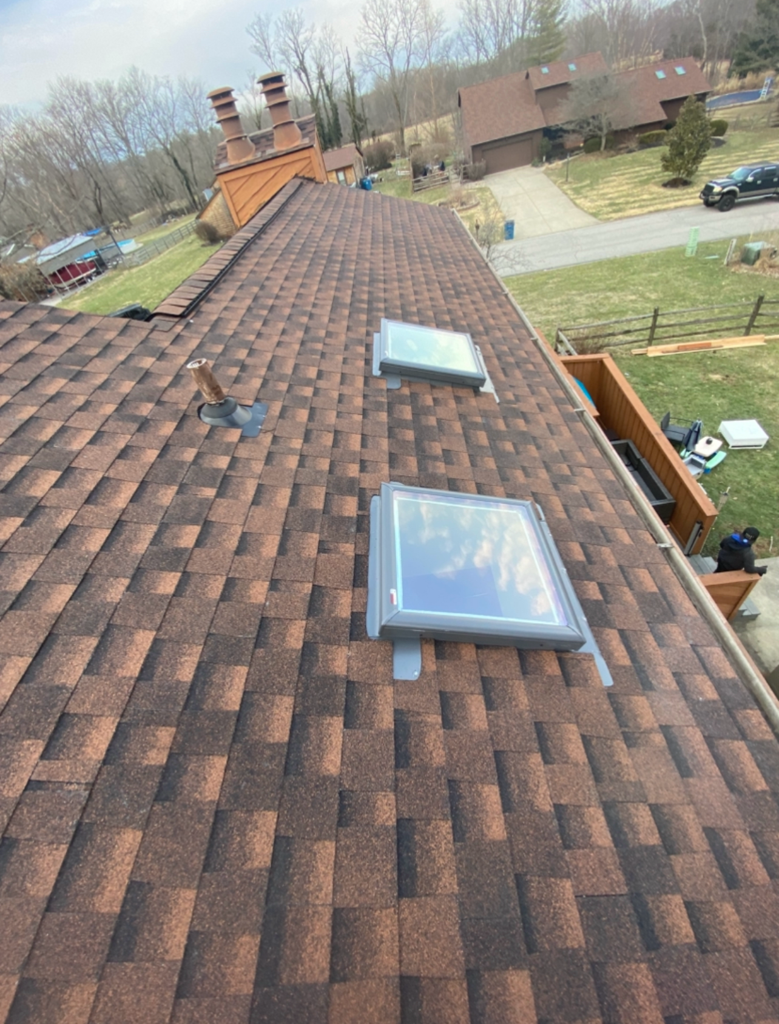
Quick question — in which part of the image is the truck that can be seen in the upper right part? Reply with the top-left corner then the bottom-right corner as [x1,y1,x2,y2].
[699,155,779,212]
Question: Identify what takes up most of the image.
buildings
